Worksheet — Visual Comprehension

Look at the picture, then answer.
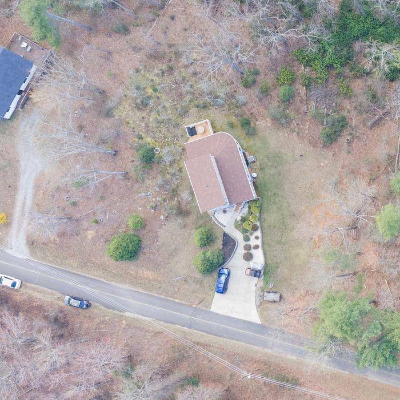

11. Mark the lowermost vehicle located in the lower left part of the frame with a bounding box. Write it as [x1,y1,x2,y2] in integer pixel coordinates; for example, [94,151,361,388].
[65,295,94,310]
